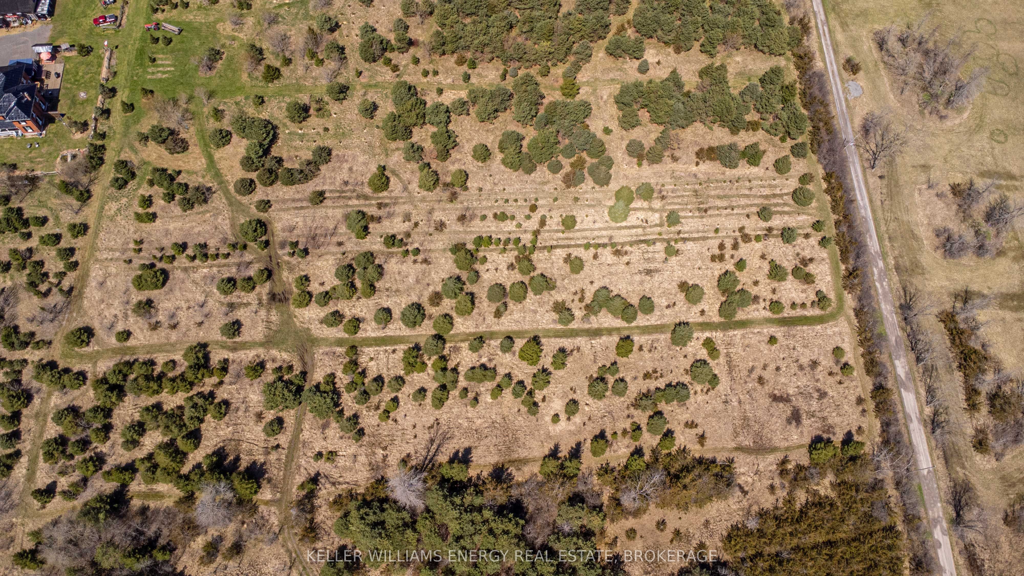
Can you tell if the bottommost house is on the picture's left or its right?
left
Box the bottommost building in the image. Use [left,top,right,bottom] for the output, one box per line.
[0,59,50,141]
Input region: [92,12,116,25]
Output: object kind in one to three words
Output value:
vehicle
